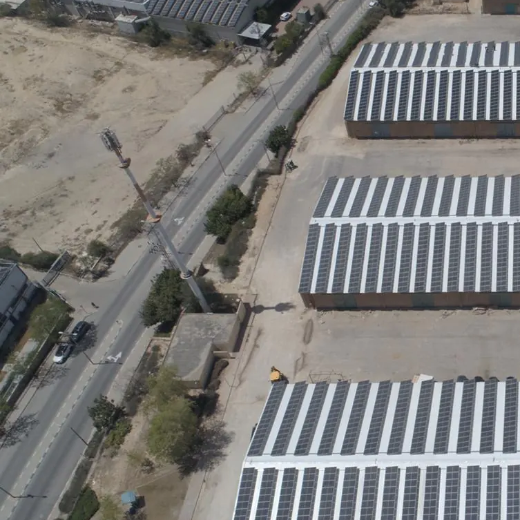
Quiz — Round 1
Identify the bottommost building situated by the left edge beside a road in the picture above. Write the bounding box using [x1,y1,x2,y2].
[0,271,43,352]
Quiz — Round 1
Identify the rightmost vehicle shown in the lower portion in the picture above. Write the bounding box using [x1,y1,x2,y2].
[266,366,280,387]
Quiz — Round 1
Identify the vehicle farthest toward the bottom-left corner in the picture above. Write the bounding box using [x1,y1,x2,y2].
[54,342,76,362]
